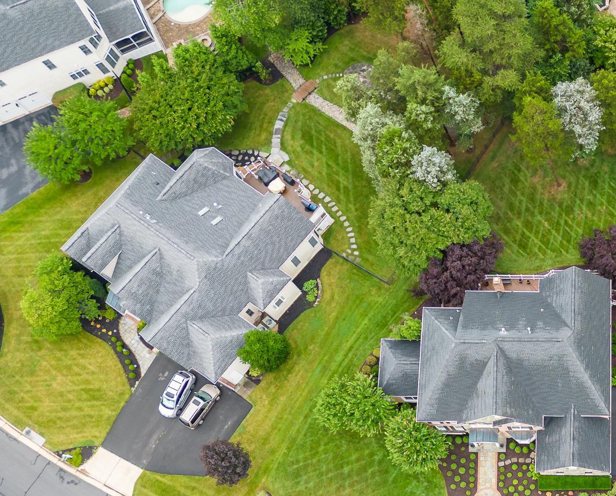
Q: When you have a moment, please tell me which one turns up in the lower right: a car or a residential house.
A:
residential house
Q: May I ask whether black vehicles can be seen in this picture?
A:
No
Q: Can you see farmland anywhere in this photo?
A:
No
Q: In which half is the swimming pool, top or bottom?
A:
top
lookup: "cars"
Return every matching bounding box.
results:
[181,387,219,431]
[162,371,196,418]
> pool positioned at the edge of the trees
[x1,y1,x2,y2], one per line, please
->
[161,0,208,22]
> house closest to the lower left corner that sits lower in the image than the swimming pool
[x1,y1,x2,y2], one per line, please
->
[60,145,340,393]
